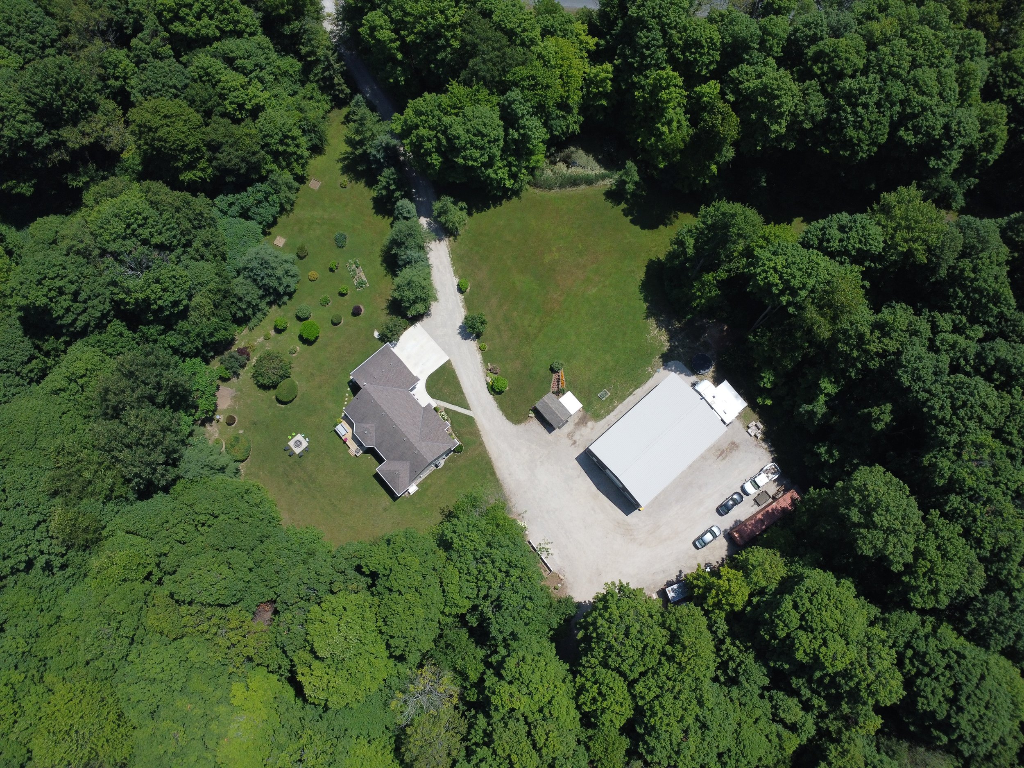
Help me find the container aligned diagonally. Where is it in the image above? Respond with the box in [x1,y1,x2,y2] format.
[724,489,803,547]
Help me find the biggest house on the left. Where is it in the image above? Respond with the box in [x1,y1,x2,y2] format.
[343,342,460,497]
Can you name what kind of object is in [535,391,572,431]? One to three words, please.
shed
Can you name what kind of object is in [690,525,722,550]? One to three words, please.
car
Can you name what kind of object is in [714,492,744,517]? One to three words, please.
car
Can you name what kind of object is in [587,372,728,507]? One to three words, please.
barn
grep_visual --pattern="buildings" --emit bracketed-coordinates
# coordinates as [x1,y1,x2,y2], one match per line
[343,342,460,497]
[535,391,572,431]
[587,372,728,507]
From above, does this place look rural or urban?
rural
